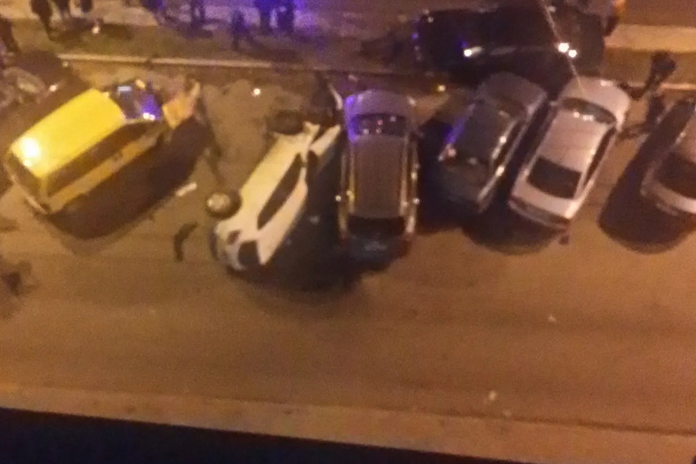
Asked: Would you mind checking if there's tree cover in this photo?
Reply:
No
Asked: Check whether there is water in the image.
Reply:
No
